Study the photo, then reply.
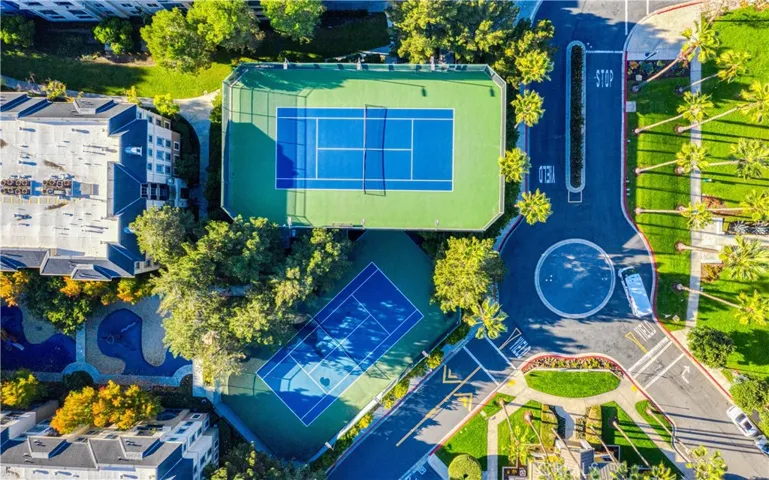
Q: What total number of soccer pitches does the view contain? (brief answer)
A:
0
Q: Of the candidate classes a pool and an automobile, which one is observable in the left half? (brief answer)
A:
pool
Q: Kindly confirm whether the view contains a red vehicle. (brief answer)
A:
No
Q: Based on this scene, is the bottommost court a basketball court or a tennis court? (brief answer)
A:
tennis court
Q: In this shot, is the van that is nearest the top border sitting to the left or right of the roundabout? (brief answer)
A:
to its right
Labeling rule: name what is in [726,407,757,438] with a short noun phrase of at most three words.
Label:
car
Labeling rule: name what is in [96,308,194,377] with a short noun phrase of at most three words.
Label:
swimming pool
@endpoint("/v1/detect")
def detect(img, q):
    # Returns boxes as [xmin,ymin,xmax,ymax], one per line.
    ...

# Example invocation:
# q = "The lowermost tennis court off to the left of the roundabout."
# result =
[219,231,460,461]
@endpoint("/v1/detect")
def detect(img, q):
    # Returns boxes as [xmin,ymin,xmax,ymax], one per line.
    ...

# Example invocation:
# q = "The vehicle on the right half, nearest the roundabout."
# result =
[618,266,655,318]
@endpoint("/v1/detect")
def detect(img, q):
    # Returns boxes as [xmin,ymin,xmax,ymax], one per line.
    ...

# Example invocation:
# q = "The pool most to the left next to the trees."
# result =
[0,302,76,372]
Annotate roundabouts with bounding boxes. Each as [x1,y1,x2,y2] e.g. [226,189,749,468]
[535,238,616,318]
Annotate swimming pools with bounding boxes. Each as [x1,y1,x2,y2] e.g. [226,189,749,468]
[96,308,194,377]
[0,302,76,372]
